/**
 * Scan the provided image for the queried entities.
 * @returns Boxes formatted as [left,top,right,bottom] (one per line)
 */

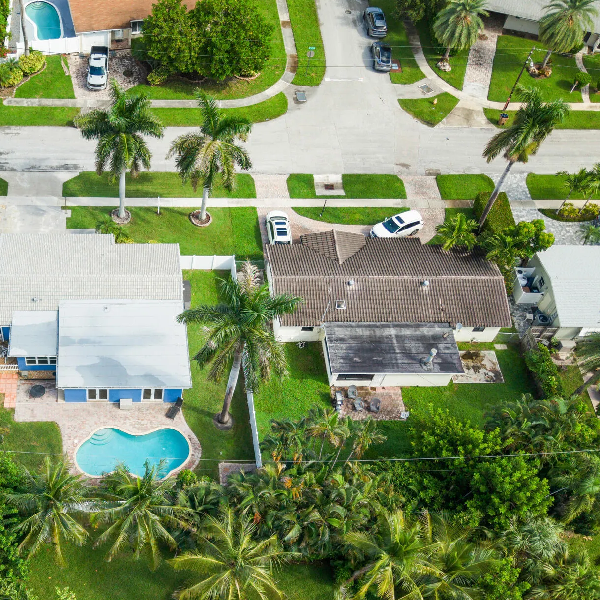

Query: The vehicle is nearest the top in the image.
[362,4,391,34]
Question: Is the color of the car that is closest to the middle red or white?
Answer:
white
